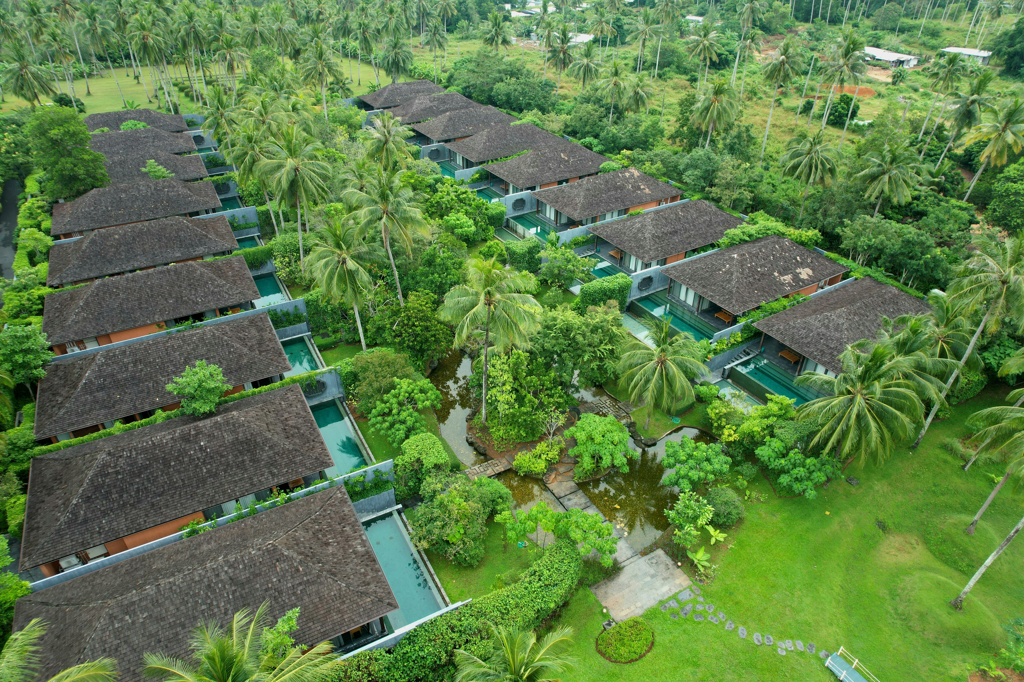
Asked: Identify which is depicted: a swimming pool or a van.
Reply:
swimming pool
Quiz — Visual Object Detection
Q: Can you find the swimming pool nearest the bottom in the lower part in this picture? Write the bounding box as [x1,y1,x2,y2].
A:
[364,513,454,633]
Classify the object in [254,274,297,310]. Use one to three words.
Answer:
swimming pool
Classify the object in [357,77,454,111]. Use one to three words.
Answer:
house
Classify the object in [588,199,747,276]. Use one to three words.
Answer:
house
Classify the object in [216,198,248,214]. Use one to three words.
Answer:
swimming pool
